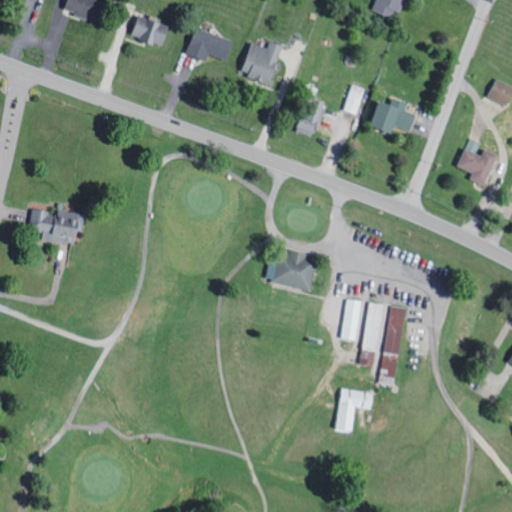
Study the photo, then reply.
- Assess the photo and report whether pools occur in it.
No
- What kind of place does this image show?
golf course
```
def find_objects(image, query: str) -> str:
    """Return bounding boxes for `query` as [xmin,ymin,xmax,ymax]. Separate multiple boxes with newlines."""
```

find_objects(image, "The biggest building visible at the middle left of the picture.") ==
[30,208,84,246]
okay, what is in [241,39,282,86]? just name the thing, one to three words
house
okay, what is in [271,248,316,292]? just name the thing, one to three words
building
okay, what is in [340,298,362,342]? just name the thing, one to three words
barn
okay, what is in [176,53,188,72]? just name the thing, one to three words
vehicle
